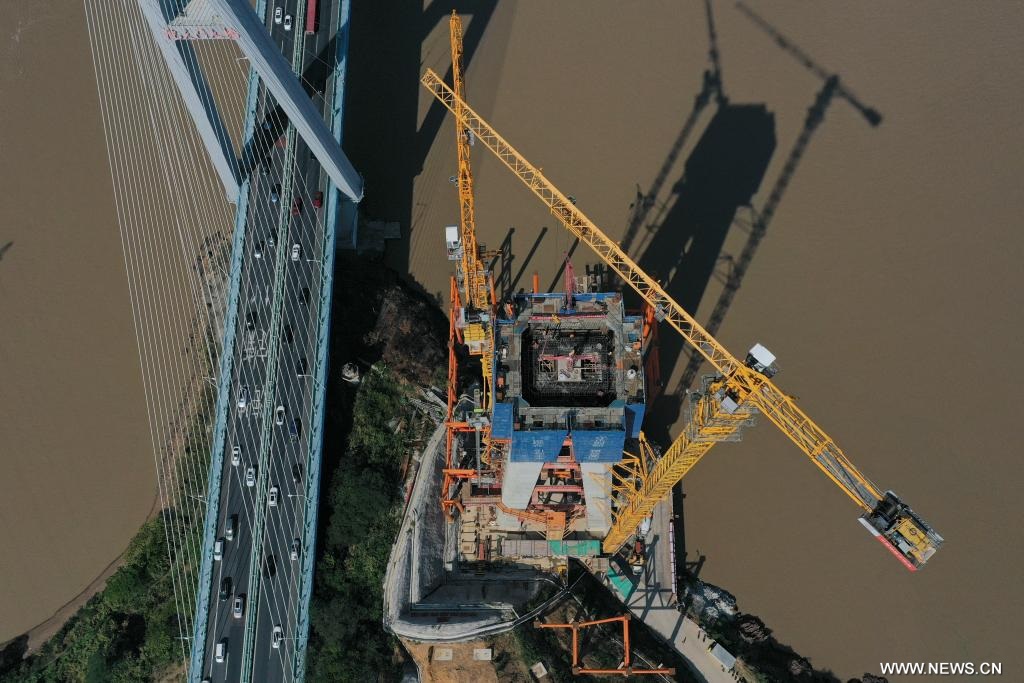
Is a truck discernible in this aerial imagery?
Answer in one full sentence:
Yes, looking at the shot, I can spot a truck.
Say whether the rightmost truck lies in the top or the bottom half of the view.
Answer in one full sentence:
You can find the rightmost truck in the bottom half.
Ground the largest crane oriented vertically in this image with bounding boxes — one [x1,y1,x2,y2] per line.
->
[445,9,515,491]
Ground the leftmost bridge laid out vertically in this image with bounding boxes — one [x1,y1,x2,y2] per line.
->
[81,0,413,683]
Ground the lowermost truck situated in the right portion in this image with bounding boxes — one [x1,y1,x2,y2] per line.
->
[703,641,739,673]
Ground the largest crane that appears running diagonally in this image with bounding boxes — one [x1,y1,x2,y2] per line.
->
[427,66,949,575]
